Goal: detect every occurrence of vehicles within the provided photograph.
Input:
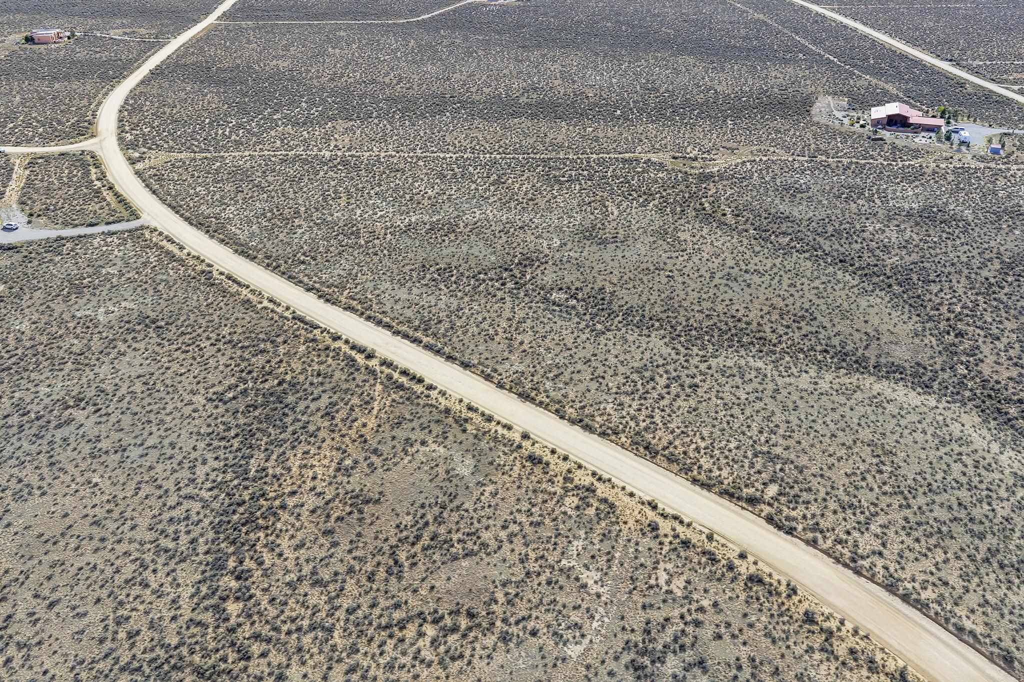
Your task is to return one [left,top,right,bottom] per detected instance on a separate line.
[2,220,19,228]
[959,129,971,141]
[947,125,964,132]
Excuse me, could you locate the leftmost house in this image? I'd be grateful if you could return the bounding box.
[28,30,66,43]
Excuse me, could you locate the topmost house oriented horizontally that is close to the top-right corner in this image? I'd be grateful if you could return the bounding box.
[870,103,944,136]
